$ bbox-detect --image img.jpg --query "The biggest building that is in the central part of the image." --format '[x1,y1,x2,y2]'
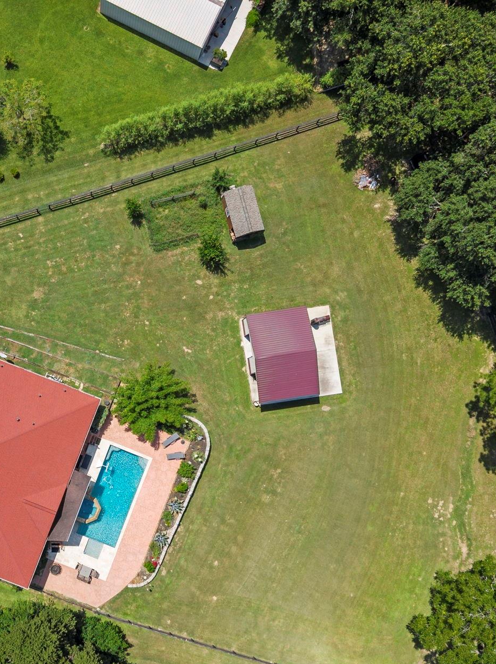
[236,306,320,408]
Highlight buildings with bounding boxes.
[221,185,265,241]
[236,306,320,408]
[0,360,102,590]
[103,0,226,61]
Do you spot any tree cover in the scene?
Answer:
Yes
